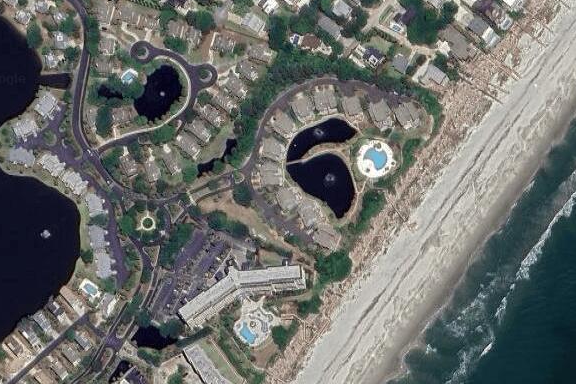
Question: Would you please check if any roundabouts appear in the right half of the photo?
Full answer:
No, no roundabout can be made out in the right half of the photo.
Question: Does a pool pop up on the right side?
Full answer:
Yes, you'll find a pool on the right side.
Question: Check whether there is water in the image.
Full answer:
Yes, water can be seen from above here.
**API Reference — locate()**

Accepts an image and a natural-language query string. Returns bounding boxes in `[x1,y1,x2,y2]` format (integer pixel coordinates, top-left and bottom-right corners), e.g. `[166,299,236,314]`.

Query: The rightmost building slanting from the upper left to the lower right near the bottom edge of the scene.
[182,343,220,384]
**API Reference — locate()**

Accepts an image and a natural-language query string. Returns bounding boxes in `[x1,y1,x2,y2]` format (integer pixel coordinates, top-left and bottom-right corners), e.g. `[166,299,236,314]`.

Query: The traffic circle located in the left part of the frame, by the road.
[126,201,169,245]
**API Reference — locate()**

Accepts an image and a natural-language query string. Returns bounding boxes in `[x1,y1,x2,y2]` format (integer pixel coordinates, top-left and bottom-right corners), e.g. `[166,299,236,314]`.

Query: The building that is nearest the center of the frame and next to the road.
[276,187,300,214]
